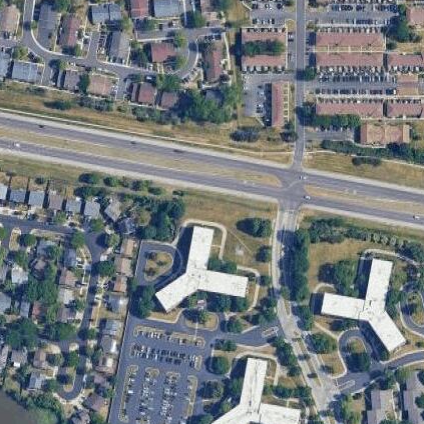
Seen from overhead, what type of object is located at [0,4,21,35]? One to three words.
house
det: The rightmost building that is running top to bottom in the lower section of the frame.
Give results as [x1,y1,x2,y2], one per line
[404,371,424,424]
